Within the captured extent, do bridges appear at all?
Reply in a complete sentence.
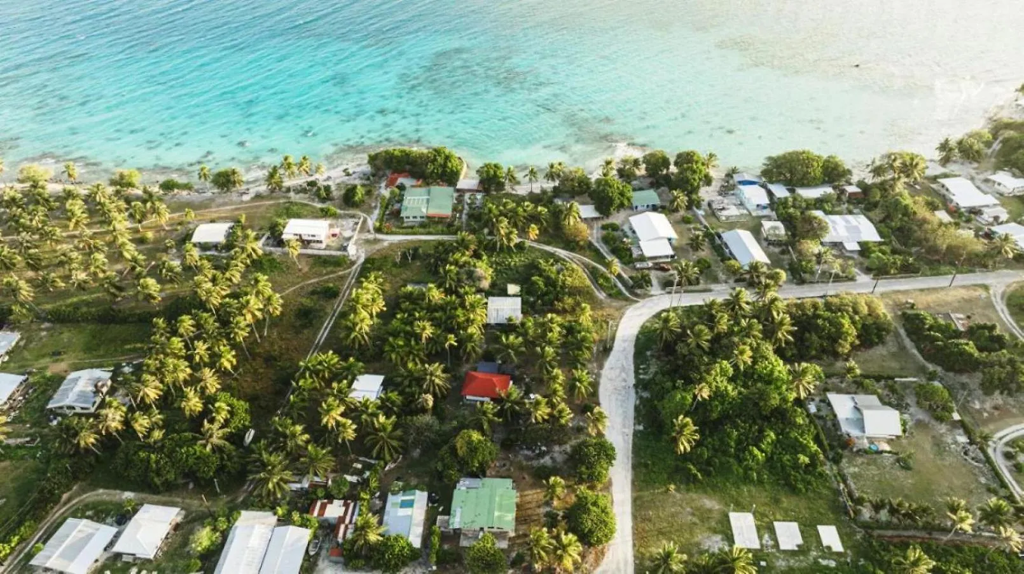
No, there isn't any bridge down there.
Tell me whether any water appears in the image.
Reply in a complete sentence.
Yes, there's water in this view.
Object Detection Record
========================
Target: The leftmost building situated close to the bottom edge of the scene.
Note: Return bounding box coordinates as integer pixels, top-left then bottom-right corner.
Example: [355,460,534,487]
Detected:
[24,516,122,574]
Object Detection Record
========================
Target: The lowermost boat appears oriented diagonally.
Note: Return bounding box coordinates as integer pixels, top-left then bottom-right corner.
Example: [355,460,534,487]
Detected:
[306,536,321,556]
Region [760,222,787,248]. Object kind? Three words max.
house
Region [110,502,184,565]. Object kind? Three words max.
house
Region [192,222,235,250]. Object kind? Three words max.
shed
